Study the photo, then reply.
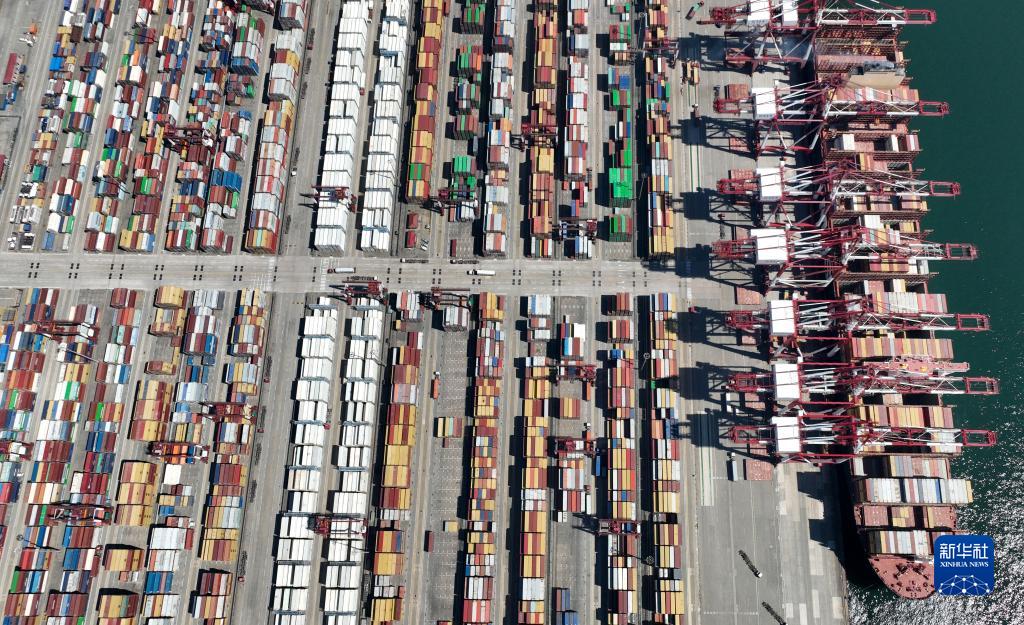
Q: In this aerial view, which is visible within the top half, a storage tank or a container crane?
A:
container crane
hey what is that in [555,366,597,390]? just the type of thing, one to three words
container crane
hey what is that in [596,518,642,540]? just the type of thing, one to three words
container crane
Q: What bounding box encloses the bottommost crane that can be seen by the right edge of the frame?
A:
[725,411,998,472]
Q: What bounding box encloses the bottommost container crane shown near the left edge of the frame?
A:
[51,505,116,527]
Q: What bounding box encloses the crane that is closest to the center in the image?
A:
[430,289,474,315]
